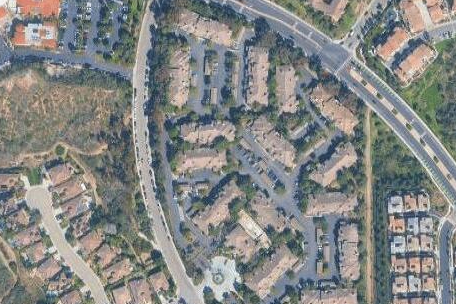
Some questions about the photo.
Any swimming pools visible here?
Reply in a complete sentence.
Yes, the frame does contain a swimming pool.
